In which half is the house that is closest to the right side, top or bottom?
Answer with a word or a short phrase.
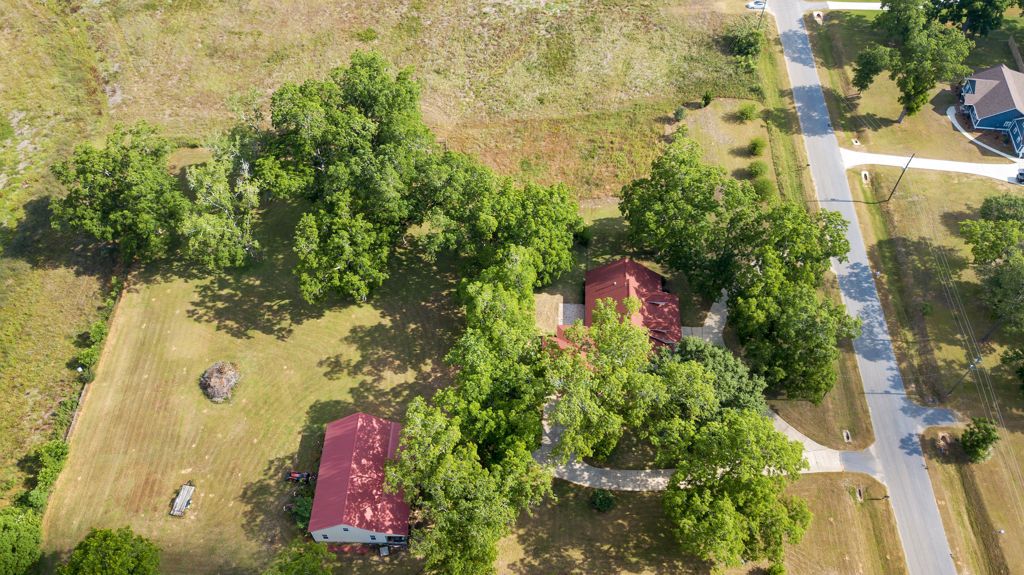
top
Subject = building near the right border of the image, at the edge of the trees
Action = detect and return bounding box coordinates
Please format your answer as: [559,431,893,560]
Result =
[954,65,1024,154]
